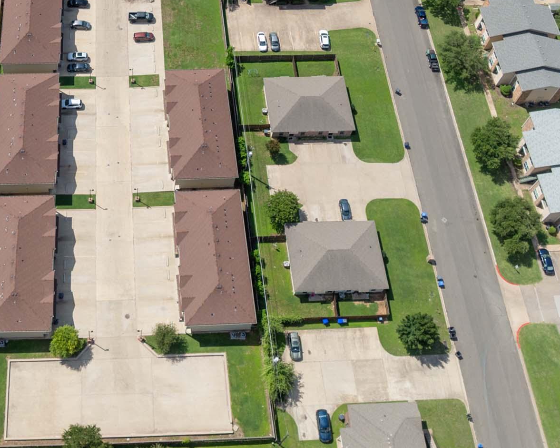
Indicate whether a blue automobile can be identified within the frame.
Yes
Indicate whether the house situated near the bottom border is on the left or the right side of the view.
right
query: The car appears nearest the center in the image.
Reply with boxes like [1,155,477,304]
[338,199,353,221]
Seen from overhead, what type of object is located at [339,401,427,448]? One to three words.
house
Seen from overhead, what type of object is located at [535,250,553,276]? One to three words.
car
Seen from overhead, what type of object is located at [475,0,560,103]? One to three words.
building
